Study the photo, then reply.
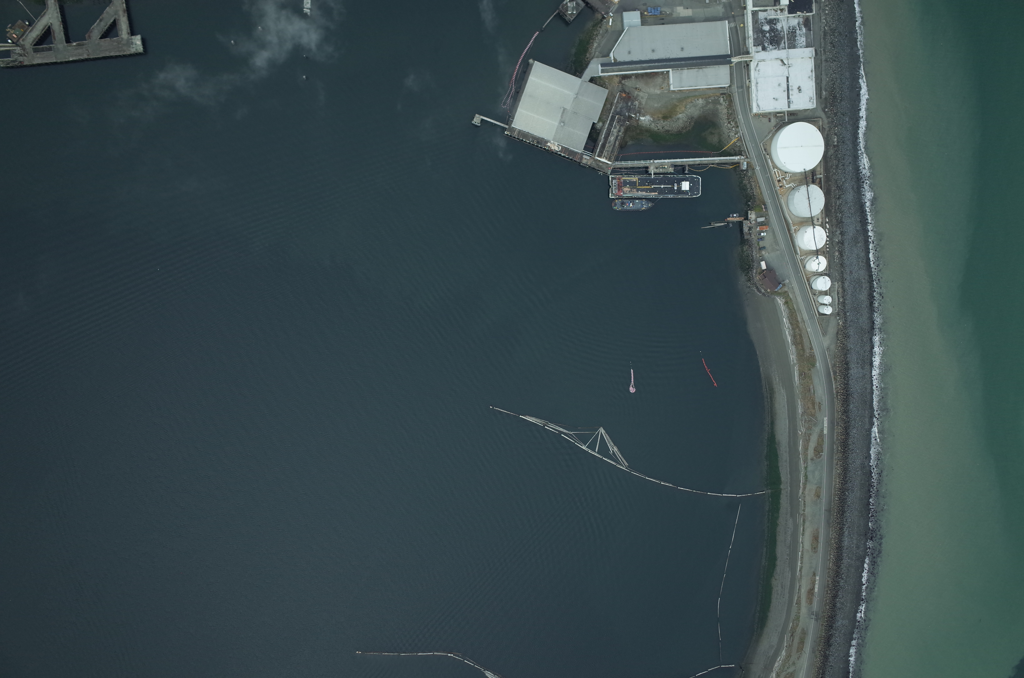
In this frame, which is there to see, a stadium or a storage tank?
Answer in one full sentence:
Of the two, only a storage tank appears.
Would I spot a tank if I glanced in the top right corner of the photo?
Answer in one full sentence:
Yes, a tank can be seen in the top right corner of the photo.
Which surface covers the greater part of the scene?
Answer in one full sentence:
For the most part, this view shows water.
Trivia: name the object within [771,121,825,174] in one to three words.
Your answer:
storage tank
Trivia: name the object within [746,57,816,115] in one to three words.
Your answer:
building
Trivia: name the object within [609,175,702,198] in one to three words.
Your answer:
ship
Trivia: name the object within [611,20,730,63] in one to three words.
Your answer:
building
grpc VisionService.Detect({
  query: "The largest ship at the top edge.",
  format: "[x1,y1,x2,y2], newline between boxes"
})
[6,20,27,42]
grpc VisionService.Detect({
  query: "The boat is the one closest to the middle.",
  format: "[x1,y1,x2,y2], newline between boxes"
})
[611,198,654,211]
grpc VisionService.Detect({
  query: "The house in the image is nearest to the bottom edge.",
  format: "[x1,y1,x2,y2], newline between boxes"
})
[757,269,779,292]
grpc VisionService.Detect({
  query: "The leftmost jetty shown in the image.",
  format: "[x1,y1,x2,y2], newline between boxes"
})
[16,0,143,65]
